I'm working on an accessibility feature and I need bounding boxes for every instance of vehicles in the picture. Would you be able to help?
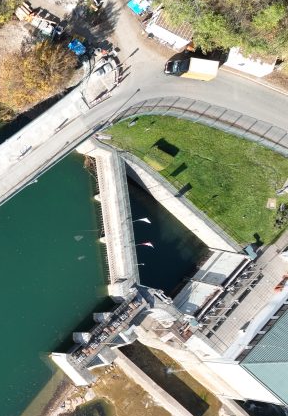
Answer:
[16,0,71,40]
[164,53,229,80]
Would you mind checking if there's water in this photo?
Yes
